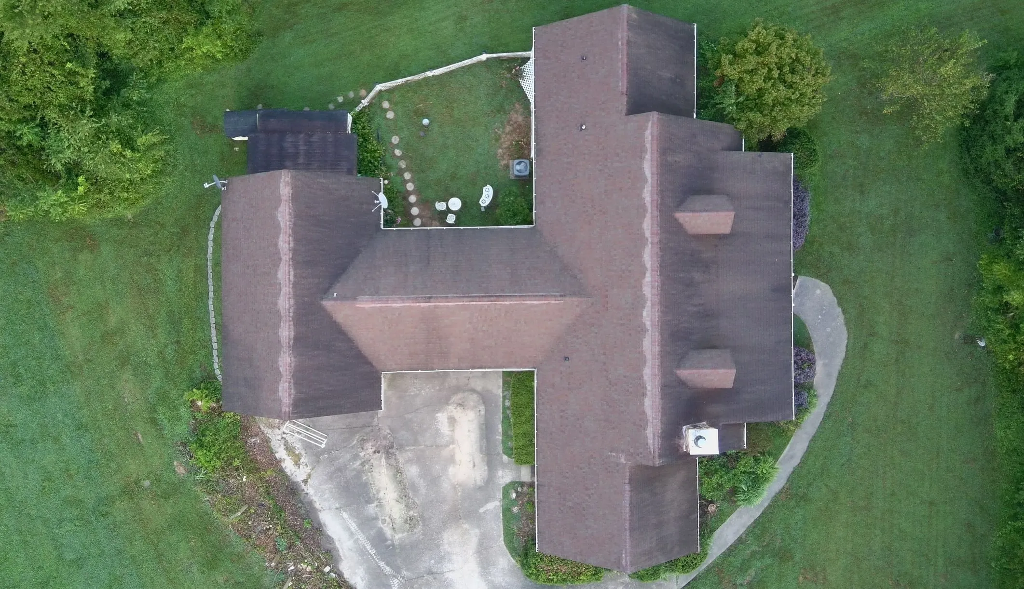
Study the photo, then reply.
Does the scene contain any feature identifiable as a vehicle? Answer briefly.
No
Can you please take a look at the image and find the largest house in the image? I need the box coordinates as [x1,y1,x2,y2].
[221,3,796,573]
